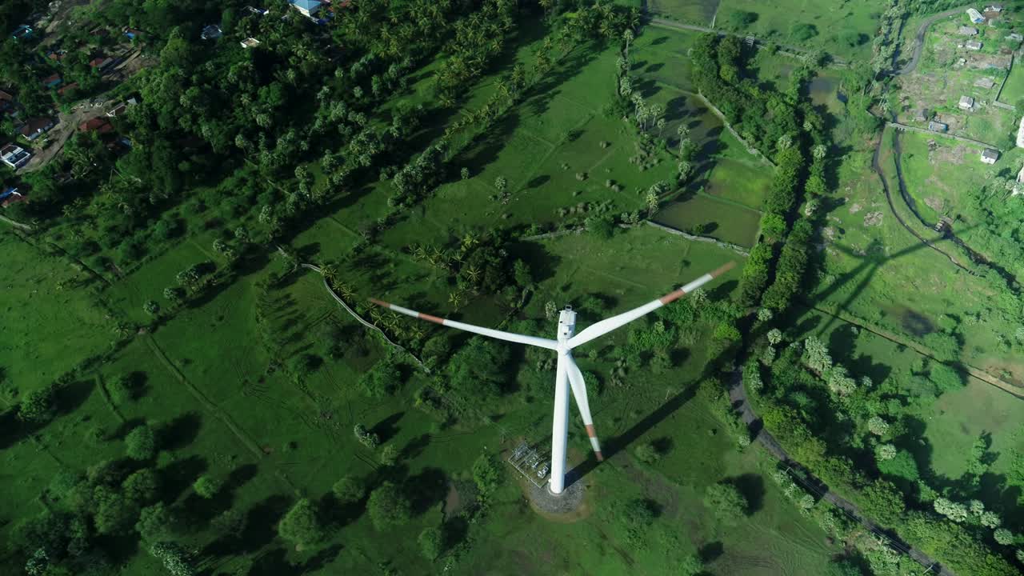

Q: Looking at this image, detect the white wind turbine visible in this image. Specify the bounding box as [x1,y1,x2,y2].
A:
[369,267,735,500]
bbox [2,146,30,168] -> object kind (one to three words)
house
